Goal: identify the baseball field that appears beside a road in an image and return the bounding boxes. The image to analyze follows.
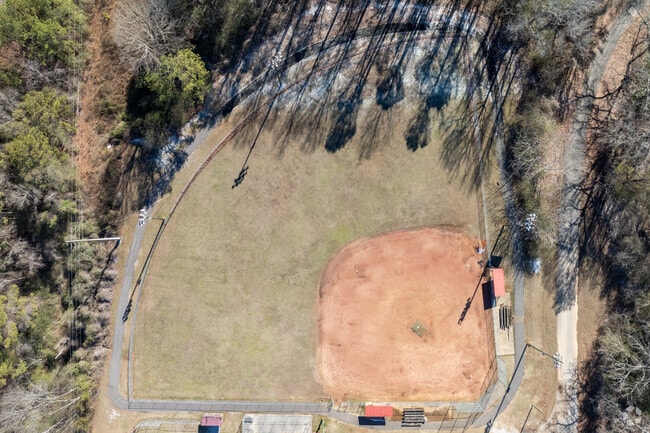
[131,35,498,402]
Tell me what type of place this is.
sports ground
